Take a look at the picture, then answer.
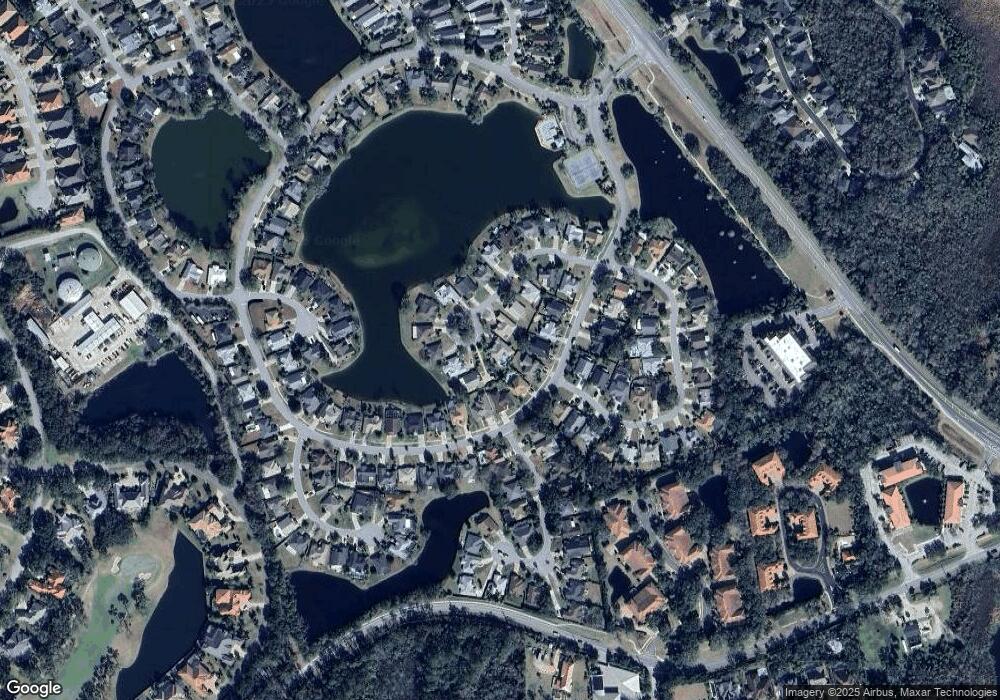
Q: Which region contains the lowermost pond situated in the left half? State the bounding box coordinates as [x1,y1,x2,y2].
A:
[83,351,215,437]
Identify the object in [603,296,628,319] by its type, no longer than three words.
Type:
house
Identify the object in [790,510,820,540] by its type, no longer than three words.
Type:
building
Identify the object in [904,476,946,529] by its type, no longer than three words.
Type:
pond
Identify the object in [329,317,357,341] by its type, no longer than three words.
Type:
house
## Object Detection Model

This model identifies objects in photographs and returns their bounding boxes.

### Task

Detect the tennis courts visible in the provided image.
[576,149,602,181]
[564,156,590,187]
